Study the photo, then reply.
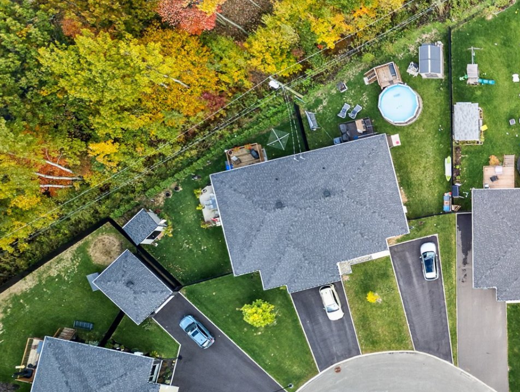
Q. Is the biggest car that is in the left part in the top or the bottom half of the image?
bottom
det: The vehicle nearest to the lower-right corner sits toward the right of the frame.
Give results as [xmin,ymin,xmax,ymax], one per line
[420,241,439,280]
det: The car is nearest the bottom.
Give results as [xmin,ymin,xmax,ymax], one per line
[180,315,215,349]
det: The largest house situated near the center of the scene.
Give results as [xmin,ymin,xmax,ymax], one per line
[210,133,408,293]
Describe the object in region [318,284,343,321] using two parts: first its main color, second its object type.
white car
